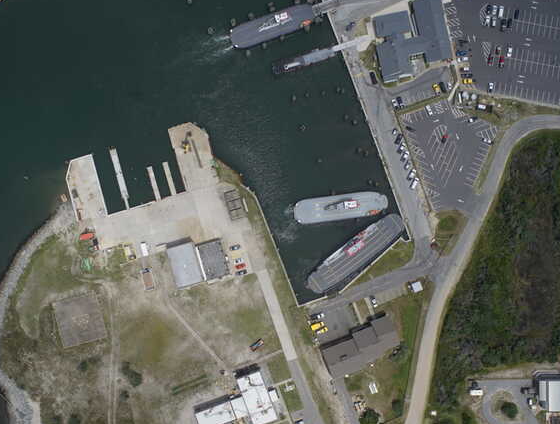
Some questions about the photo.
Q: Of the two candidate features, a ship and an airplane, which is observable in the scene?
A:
ship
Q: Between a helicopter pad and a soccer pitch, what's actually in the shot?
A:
helicopter pad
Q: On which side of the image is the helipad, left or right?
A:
left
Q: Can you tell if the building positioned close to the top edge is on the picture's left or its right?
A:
right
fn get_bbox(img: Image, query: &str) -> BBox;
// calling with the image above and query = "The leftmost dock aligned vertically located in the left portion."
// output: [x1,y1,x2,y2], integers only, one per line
[109,145,131,214]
